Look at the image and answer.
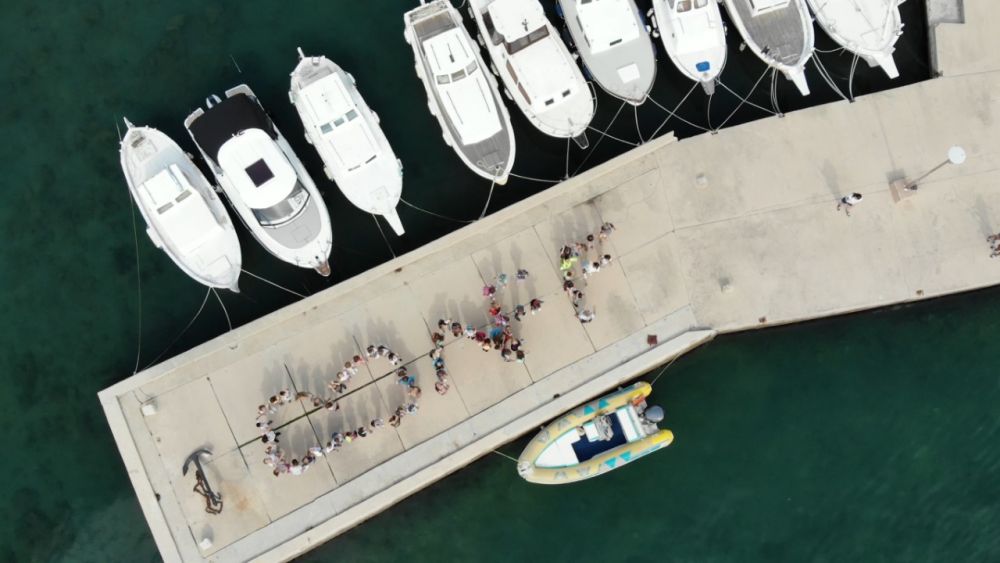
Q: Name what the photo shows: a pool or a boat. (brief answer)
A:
boat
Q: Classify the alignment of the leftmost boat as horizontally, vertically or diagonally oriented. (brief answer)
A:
diagonally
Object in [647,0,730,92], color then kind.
white boat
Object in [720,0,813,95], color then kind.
white boat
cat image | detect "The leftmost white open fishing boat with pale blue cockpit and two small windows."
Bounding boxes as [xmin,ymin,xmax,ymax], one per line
[119,119,240,296]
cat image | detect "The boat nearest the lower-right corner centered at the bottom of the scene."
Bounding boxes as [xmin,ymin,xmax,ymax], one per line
[519,386,670,484]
